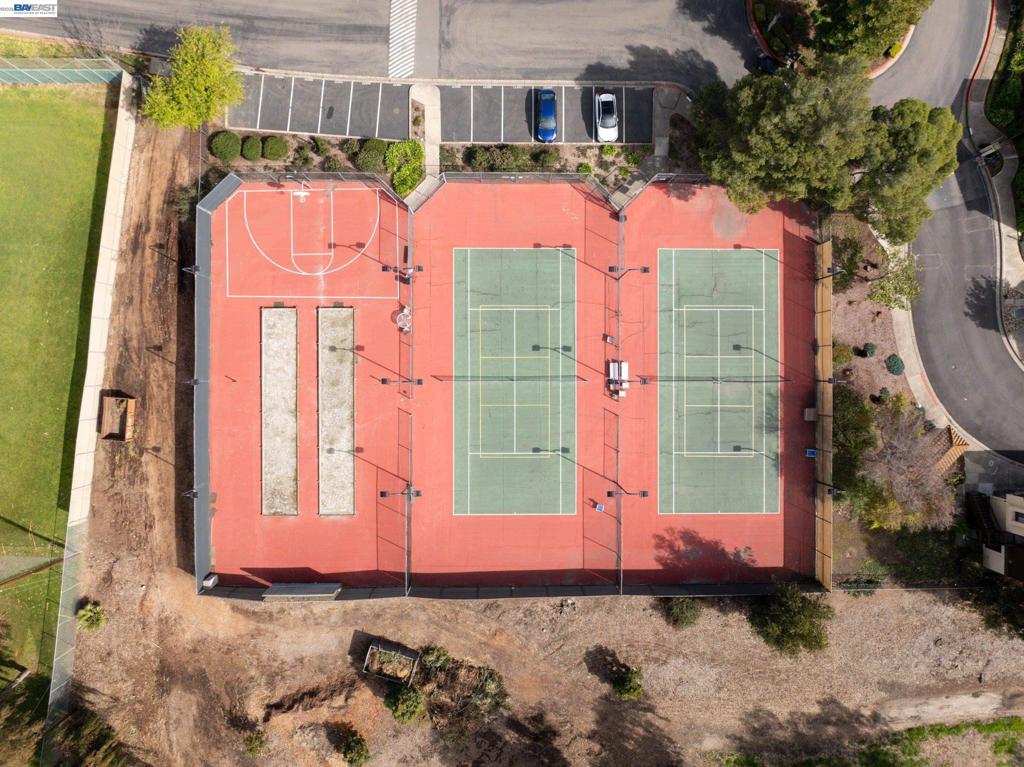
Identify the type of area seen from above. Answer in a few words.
sports ground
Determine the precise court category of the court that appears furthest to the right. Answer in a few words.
tennis court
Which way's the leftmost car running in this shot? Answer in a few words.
up and down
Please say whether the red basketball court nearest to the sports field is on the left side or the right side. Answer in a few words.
left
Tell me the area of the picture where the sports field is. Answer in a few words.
left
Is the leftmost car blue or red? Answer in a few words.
blue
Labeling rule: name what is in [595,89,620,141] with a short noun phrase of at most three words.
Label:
car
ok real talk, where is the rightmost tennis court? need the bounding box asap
[617,183,816,586]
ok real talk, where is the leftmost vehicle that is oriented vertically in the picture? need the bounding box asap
[535,88,559,141]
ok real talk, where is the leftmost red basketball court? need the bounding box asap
[211,182,411,589]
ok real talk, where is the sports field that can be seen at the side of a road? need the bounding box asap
[0,83,137,767]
